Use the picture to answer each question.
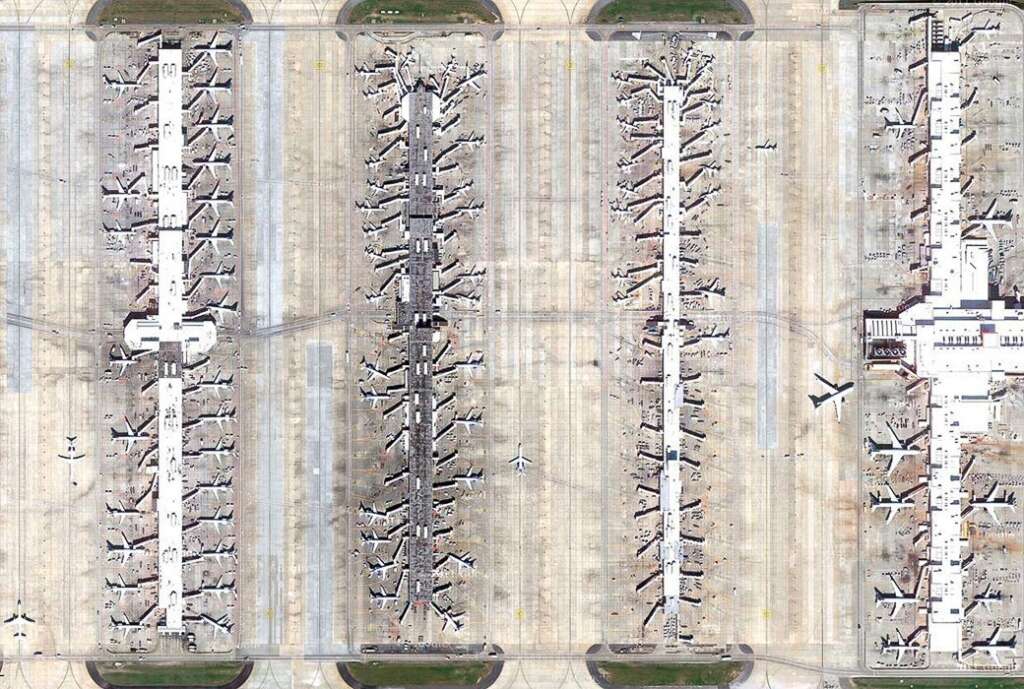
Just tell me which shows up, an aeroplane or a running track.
aeroplane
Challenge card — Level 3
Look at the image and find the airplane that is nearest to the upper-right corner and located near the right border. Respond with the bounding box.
[972,20,1000,41]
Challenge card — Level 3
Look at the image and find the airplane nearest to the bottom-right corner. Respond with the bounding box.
[972,628,1017,667]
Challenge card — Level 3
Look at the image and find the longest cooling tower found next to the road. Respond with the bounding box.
[866,339,908,361]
